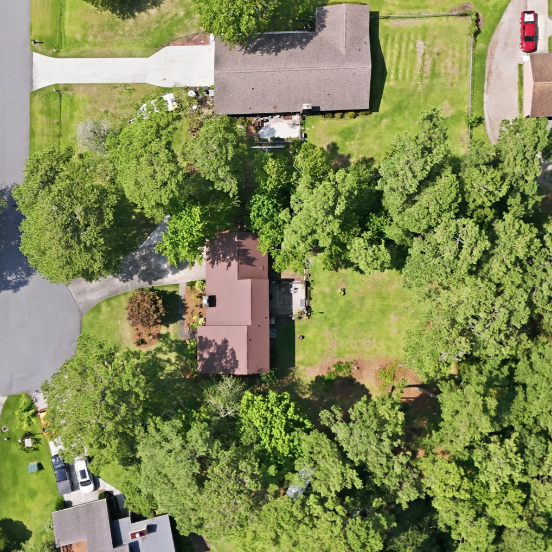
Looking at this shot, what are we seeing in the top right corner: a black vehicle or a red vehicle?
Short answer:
red vehicle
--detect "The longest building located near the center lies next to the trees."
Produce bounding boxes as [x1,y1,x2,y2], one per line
[196,231,270,374]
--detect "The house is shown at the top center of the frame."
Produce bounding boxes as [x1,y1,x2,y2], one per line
[214,3,372,119]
